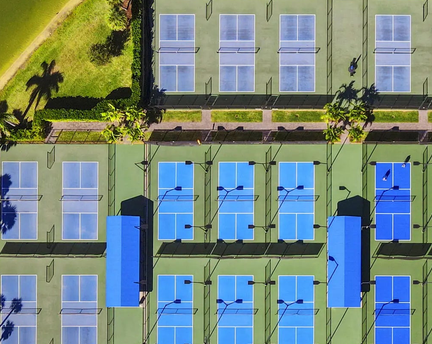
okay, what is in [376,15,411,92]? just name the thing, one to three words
sports court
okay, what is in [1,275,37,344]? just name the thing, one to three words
sports court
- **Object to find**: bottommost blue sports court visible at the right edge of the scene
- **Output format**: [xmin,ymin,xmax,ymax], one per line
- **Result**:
[375,276,411,344]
